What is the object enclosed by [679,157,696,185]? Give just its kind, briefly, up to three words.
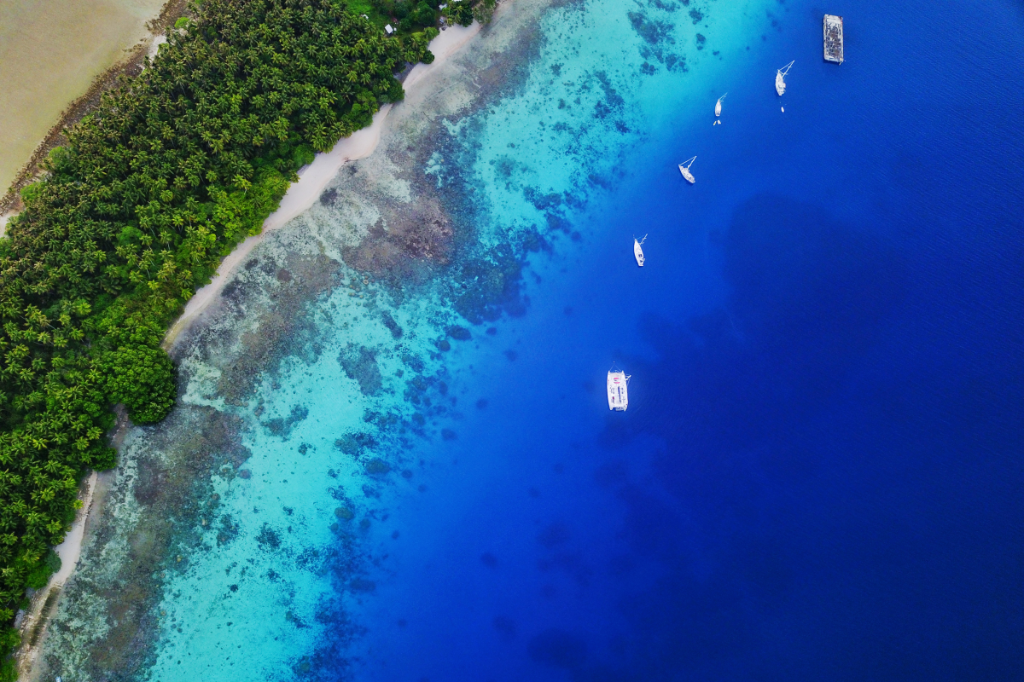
boat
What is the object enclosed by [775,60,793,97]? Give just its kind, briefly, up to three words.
boat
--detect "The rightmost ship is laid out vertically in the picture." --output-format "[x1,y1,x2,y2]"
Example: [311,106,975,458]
[823,13,844,64]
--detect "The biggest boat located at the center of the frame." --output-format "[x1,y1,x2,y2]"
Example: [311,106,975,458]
[607,371,630,412]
